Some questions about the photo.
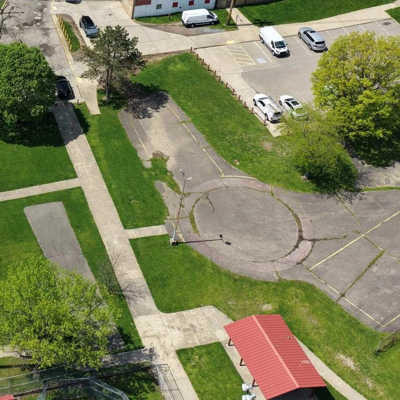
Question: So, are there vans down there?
Yes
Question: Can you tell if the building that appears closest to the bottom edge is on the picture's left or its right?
right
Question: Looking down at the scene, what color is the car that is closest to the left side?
black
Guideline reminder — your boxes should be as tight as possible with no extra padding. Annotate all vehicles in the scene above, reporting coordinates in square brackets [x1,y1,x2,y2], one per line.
[78,14,99,37]
[275,94,311,122]
[256,21,292,59]
[176,6,223,30]
[294,26,330,53]
[53,74,74,102]
[246,92,289,126]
